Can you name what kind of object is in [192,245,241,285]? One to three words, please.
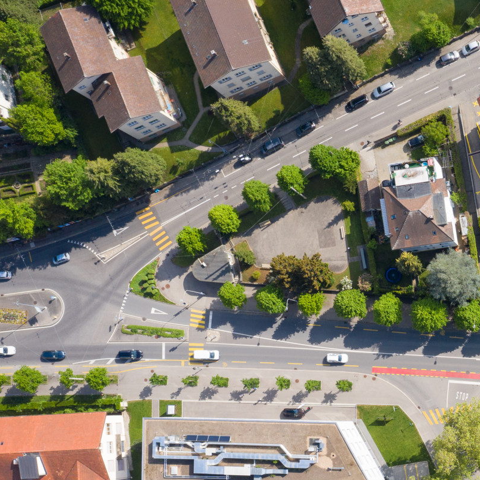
building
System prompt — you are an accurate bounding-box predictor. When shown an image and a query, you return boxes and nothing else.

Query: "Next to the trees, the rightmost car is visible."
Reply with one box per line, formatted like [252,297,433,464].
[460,40,480,56]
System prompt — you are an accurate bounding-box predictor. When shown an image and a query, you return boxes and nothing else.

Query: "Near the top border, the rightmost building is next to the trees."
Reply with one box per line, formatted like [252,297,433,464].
[306,0,394,45]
